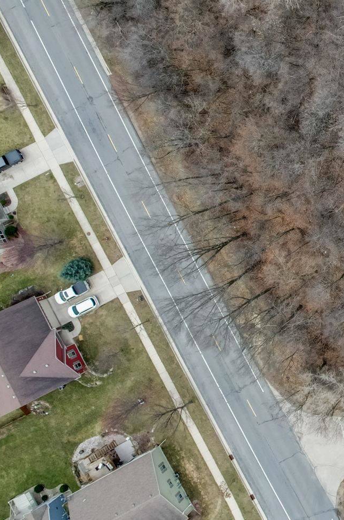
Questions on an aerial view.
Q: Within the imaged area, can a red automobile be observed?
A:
No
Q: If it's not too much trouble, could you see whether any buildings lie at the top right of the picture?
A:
No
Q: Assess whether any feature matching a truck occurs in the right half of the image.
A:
No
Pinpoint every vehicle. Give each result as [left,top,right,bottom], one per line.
[0,146,28,174]
[66,292,103,320]
[52,278,95,306]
